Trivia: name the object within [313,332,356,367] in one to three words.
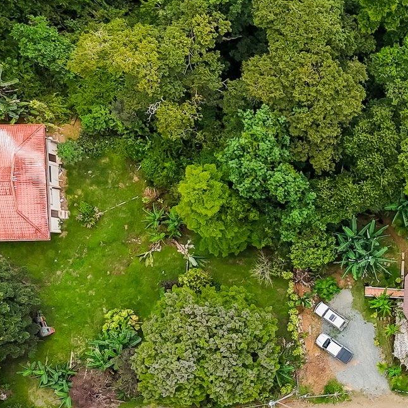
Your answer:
truck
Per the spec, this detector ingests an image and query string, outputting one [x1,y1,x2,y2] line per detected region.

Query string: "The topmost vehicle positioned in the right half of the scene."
[312,302,350,333]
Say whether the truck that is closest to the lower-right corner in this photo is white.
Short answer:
Yes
